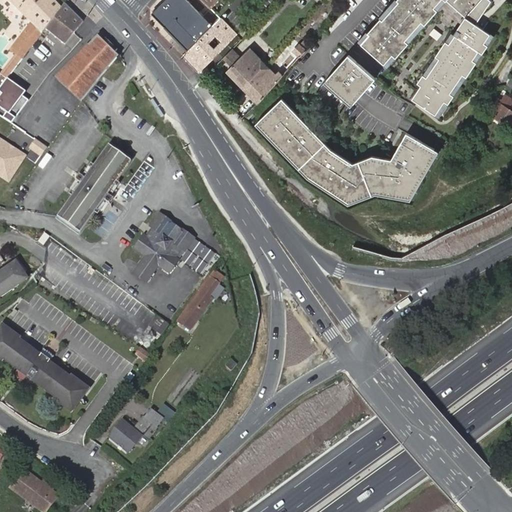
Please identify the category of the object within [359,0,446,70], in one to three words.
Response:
building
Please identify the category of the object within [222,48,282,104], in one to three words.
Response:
house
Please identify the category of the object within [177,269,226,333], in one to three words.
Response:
house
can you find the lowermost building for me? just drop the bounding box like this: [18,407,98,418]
[9,472,56,512]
